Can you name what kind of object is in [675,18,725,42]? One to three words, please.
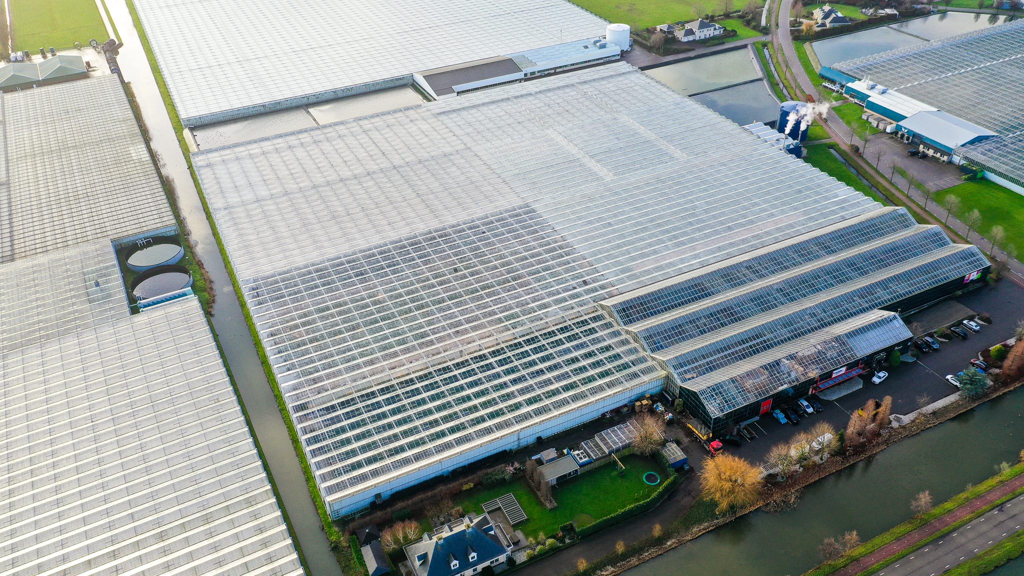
house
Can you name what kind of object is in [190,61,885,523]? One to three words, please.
greenhouse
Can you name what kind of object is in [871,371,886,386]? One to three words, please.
car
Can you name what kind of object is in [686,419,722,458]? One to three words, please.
truck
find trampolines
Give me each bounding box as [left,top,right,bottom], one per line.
[642,472,660,486]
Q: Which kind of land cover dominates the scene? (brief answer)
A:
buildings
